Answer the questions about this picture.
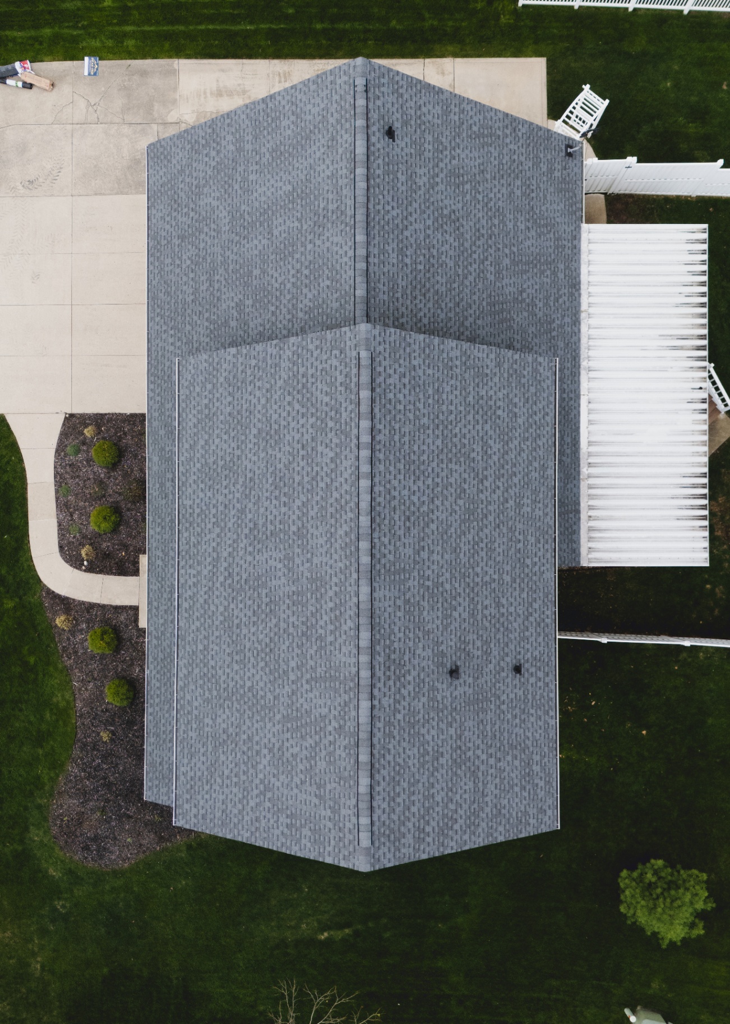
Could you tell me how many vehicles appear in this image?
0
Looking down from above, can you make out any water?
No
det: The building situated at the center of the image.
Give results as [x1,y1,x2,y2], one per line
[142,55,586,873]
